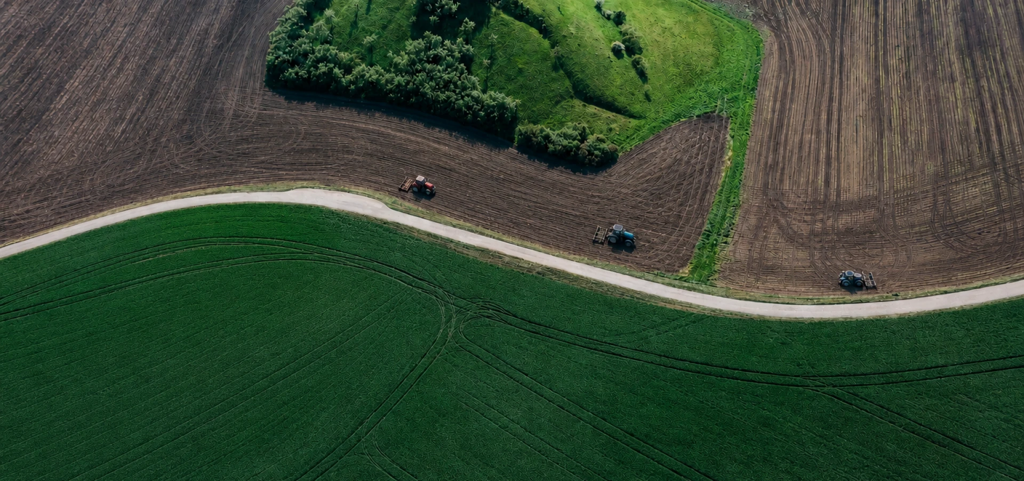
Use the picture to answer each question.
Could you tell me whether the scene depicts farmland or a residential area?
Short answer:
farmland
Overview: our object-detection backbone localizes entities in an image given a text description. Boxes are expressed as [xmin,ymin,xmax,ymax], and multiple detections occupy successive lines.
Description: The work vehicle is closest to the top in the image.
[411,175,438,196]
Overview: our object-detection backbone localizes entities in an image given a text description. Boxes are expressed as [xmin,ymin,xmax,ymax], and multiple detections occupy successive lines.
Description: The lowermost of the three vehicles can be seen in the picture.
[836,270,862,289]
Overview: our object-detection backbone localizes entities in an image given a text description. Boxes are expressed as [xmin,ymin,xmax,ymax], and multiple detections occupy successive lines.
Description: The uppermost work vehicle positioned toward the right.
[607,223,636,245]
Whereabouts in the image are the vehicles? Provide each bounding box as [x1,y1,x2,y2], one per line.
[836,270,862,289]
[411,175,438,196]
[607,223,636,245]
